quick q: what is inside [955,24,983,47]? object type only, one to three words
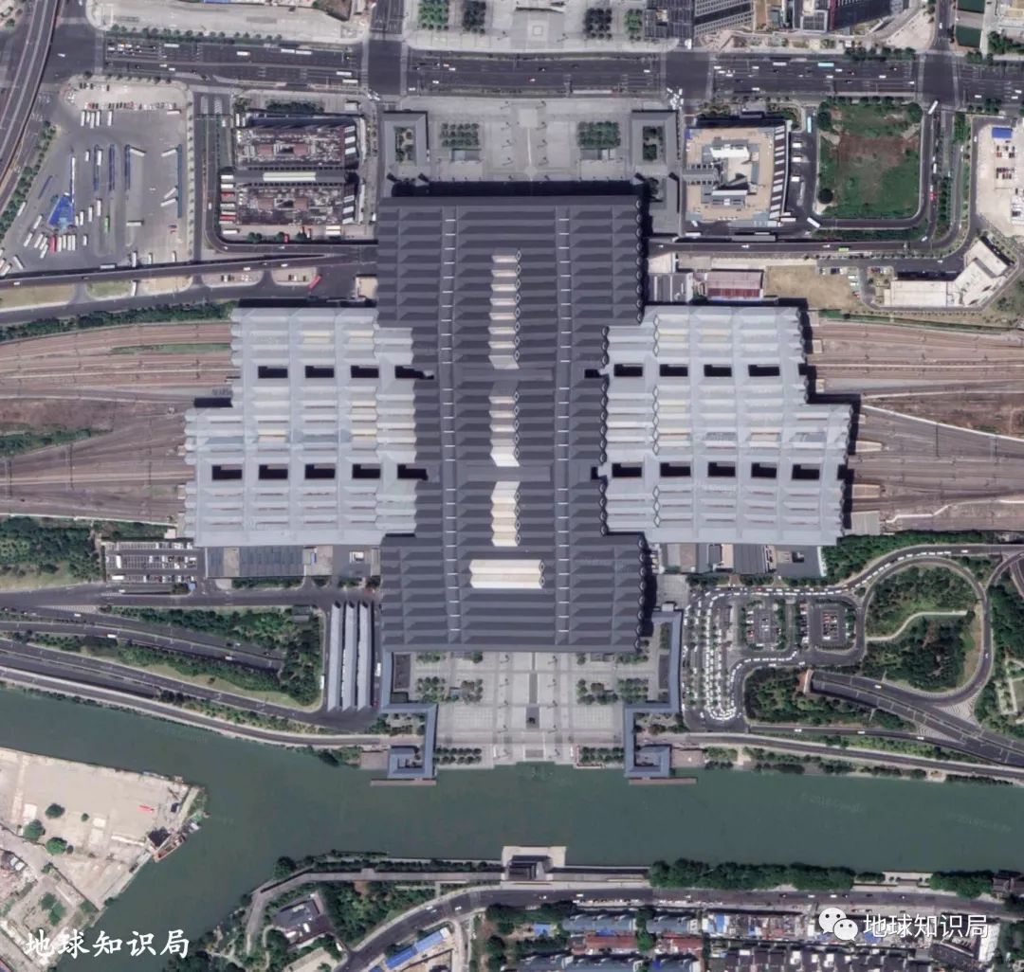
sports court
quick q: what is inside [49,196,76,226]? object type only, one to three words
building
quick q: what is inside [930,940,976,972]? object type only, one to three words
building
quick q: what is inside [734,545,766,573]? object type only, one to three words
shed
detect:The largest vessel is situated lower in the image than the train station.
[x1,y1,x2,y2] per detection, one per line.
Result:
[154,831,187,863]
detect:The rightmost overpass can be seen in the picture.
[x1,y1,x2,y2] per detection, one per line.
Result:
[648,239,908,254]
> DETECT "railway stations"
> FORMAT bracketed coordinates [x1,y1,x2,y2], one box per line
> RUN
[177,196,882,652]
